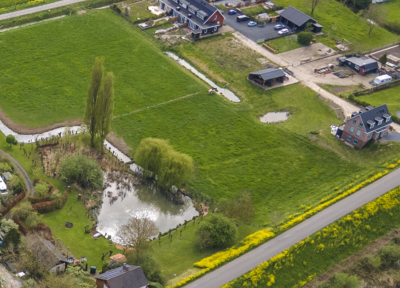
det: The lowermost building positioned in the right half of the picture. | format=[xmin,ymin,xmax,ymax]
[343,104,392,146]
